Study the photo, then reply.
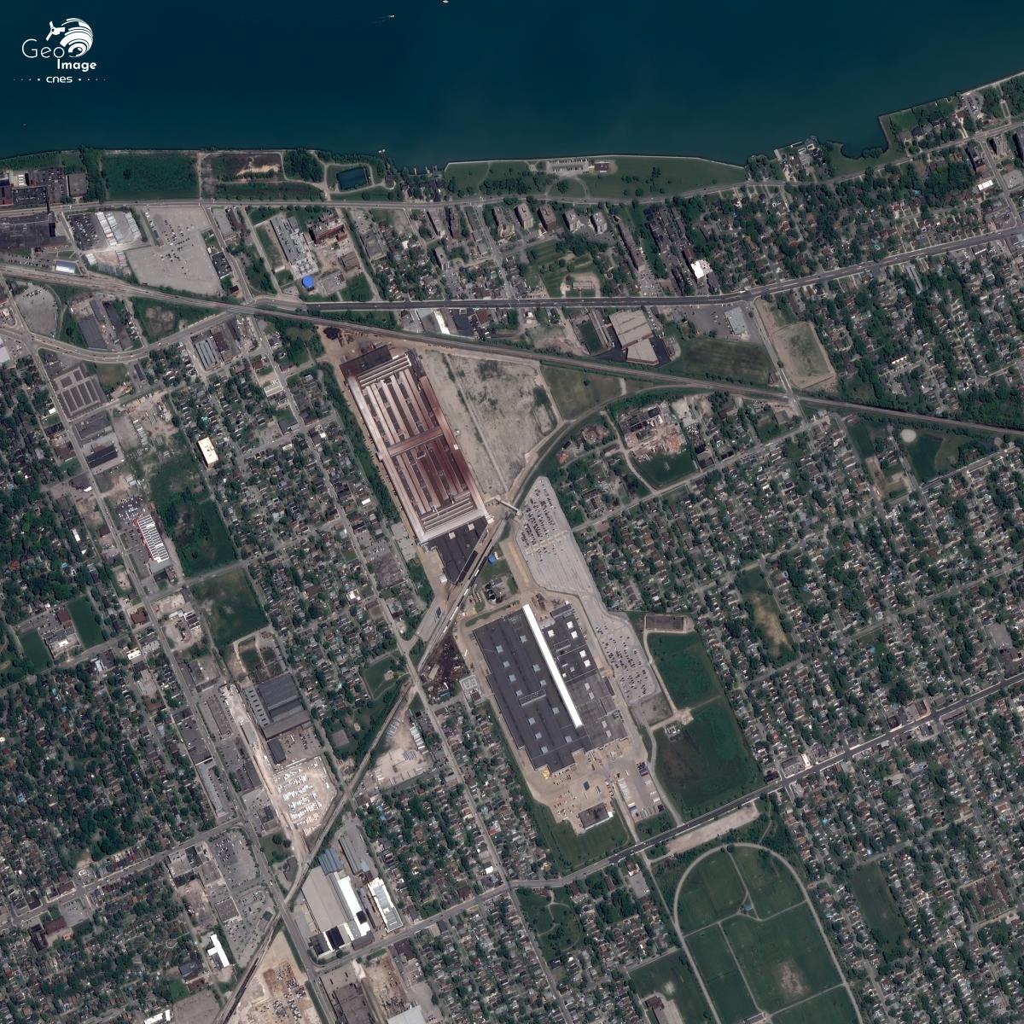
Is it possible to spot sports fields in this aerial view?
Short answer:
Yes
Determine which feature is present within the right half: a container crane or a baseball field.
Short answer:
baseball field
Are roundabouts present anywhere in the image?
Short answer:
No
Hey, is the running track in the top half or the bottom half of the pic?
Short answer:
bottom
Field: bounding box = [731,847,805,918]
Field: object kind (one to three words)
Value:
sports field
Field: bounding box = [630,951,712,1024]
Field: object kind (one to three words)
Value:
sports field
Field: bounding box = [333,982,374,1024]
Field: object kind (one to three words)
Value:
building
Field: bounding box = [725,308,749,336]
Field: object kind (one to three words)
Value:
building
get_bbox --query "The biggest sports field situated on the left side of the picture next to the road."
[194,570,263,646]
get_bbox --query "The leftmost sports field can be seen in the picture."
[19,630,52,669]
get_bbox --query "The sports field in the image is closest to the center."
[637,447,697,487]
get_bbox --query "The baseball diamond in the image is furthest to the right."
[901,428,942,484]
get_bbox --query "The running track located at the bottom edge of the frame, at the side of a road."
[674,843,862,1024]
